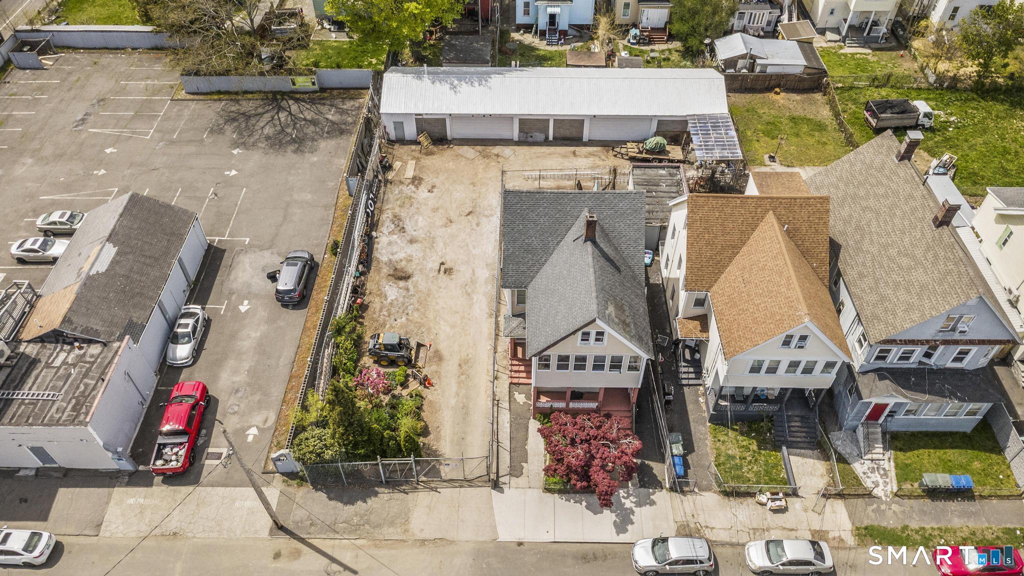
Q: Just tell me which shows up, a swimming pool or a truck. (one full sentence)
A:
I can see a truck in this picture.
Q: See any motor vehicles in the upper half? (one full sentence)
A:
Yes, a motor vehicle is visible in the upper half.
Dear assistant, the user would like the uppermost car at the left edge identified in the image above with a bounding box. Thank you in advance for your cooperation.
[31,204,94,233]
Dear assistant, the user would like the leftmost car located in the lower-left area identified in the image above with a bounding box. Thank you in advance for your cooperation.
[0,529,57,571]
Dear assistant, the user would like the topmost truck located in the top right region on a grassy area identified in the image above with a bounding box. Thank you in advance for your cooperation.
[857,95,941,135]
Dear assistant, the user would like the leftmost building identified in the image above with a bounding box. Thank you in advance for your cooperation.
[0,191,211,482]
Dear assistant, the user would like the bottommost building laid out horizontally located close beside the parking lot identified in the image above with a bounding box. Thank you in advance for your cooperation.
[381,57,728,143]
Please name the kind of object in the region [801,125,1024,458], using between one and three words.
house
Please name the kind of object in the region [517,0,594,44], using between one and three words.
house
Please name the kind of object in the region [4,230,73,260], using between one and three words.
car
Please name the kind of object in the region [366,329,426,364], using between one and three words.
work vehicle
